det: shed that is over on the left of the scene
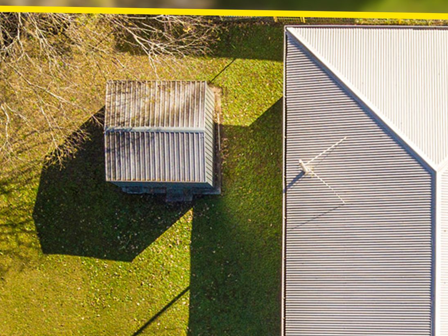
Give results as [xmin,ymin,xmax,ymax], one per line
[103,78,222,203]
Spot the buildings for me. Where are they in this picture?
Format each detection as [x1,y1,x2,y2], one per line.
[282,25,448,336]
[103,78,222,203]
